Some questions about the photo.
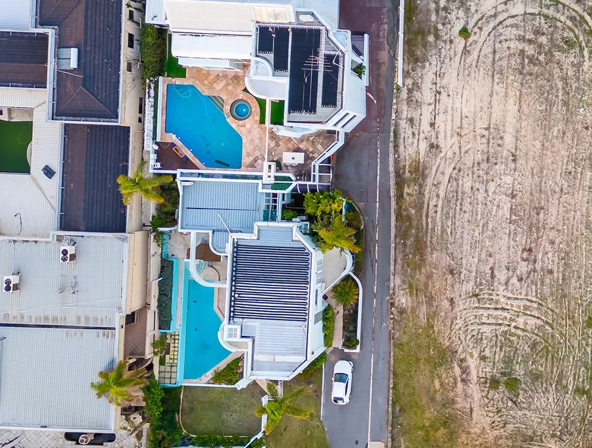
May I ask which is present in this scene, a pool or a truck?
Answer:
pool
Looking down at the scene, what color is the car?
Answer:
white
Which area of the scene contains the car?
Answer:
bottom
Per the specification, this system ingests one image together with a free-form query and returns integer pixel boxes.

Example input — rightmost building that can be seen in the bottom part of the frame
[157,179,350,387]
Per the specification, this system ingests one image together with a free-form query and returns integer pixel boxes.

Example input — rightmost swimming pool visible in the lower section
[159,258,236,384]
